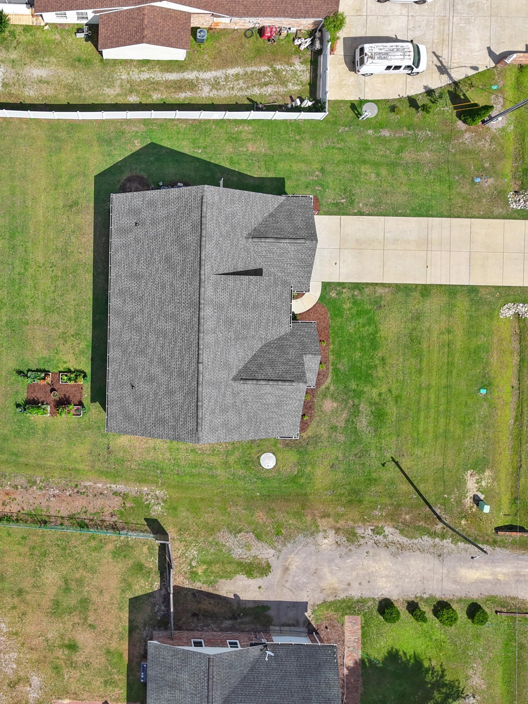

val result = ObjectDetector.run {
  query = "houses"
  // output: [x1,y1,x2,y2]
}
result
[36,0,341,59]
[104,177,321,443]
[147,631,344,704]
